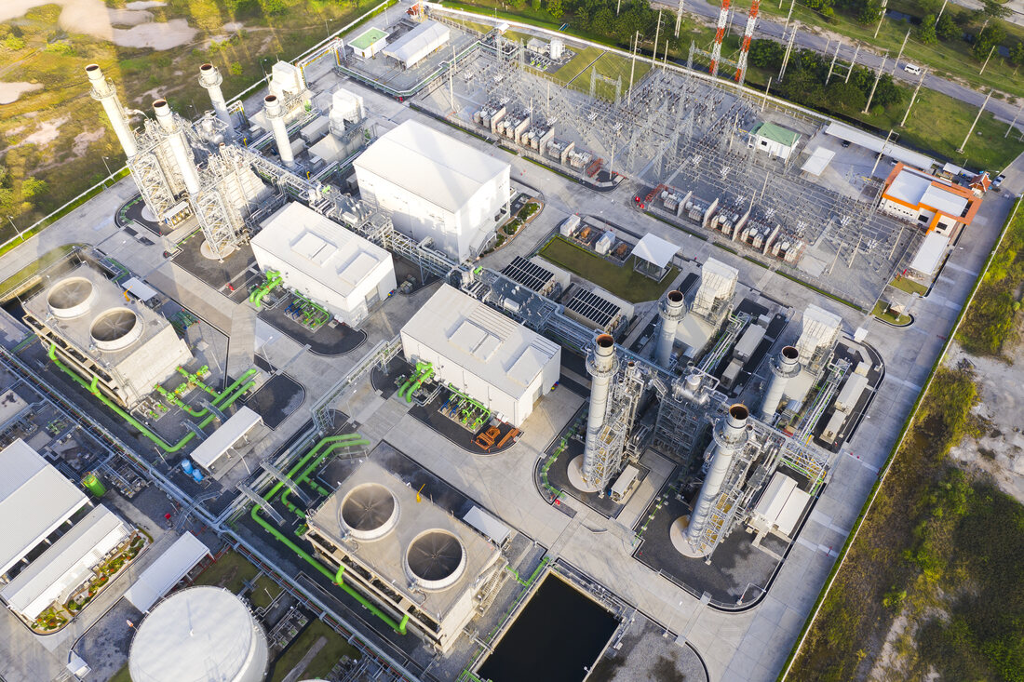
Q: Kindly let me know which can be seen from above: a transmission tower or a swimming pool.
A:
transmission tower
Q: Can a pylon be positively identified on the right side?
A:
Yes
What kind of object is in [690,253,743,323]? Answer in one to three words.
house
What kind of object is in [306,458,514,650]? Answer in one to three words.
cooling tower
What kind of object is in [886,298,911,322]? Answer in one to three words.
gazebo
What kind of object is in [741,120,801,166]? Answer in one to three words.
building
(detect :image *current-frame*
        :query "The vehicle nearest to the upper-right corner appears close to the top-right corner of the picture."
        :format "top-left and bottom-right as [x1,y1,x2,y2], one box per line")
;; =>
[904,62,922,76]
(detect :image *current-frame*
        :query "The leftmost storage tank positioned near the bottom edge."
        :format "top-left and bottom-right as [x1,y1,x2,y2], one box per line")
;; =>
[120,581,272,682]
